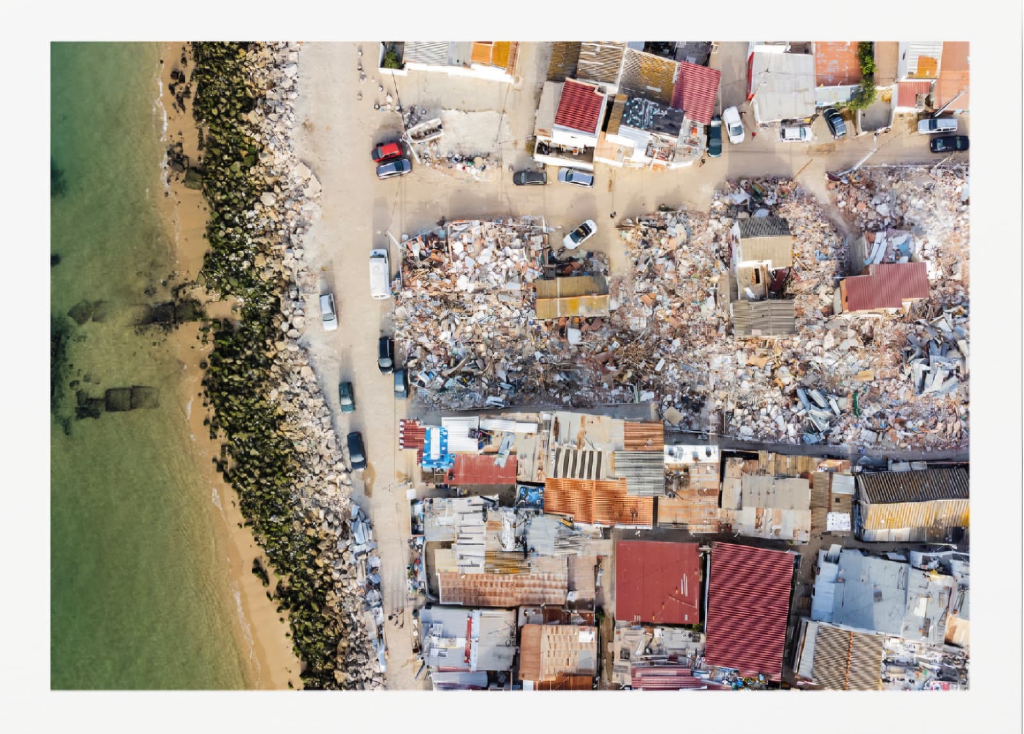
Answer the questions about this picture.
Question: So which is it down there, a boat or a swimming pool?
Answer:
boat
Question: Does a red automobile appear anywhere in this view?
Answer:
Yes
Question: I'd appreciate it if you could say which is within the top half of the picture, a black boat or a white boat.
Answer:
white boat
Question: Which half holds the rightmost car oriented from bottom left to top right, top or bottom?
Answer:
top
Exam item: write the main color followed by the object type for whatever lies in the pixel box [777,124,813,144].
white car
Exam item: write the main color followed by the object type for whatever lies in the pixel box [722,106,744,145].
white car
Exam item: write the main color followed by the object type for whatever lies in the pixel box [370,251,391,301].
white vehicle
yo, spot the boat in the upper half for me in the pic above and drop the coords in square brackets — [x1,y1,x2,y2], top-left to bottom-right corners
[403,115,445,139]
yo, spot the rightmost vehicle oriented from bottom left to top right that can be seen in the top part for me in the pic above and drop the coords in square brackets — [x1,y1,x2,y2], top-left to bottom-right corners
[560,219,599,251]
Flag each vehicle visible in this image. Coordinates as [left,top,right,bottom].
[915,116,956,135]
[928,134,967,153]
[392,368,409,401]
[371,143,405,162]
[556,167,595,188]
[777,124,813,144]
[320,293,339,330]
[722,106,744,145]
[377,336,395,374]
[560,219,599,251]
[338,379,356,413]
[347,431,367,470]
[370,251,391,301]
[375,158,414,180]
[514,169,547,187]
[706,116,724,155]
